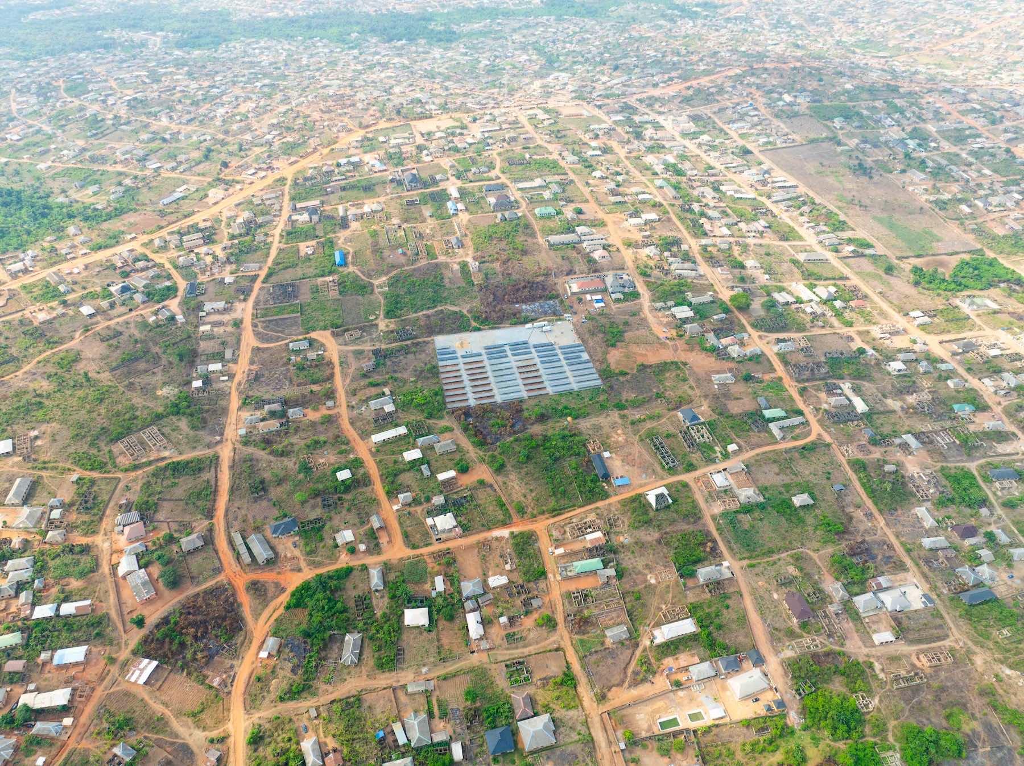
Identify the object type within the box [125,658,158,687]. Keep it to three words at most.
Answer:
house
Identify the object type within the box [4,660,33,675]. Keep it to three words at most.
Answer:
house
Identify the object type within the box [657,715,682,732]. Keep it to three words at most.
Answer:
swimming pool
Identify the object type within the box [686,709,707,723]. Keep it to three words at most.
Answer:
swimming pool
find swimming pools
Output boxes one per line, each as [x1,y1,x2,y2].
[657,715,682,732]
[686,709,707,723]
